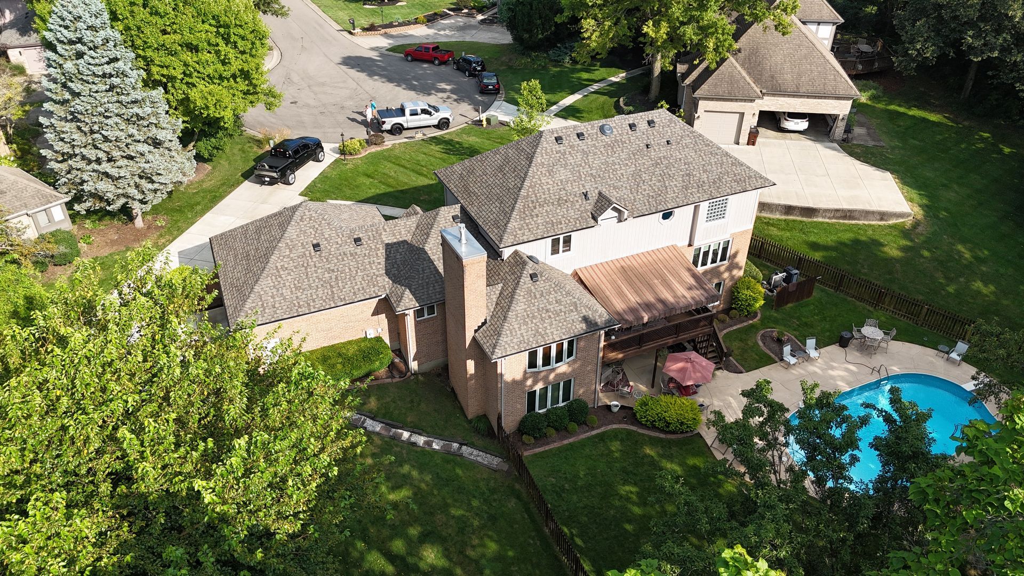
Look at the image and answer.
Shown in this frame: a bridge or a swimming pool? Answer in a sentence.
There is a swimming pool in the scene.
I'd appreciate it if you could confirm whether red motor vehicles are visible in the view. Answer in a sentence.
Yes, the frame does contain a red motor vehicle.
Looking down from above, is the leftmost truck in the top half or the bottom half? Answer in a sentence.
The leftmost truck sits in the top half of the picture.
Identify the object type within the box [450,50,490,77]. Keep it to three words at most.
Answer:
car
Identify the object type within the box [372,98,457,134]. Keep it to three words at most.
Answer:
truck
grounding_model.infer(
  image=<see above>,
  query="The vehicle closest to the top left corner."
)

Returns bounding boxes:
[248,133,330,189]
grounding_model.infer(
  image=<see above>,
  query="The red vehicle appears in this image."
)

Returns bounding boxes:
[401,41,456,65]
